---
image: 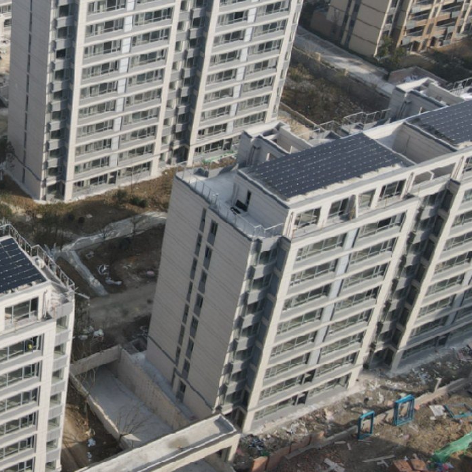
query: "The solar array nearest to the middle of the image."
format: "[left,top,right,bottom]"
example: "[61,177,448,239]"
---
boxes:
[245,133,404,200]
